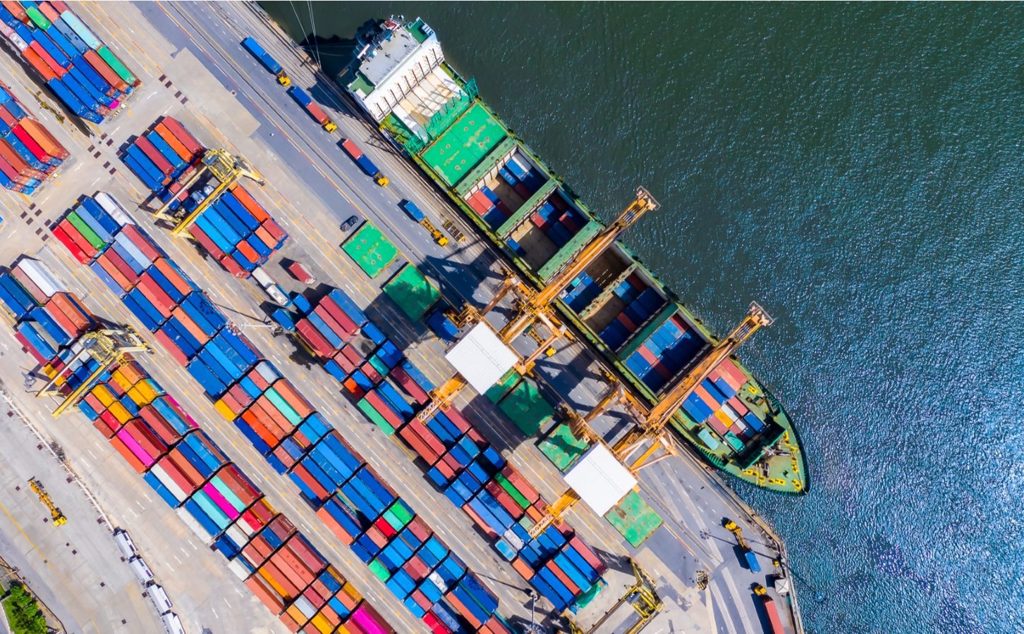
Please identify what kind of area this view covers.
port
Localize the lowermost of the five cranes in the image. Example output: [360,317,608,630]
[563,554,664,634]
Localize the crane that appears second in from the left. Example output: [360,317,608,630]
[151,148,268,249]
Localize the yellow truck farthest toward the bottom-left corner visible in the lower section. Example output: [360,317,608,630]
[26,477,70,529]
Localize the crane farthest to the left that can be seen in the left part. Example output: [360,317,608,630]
[31,323,157,419]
